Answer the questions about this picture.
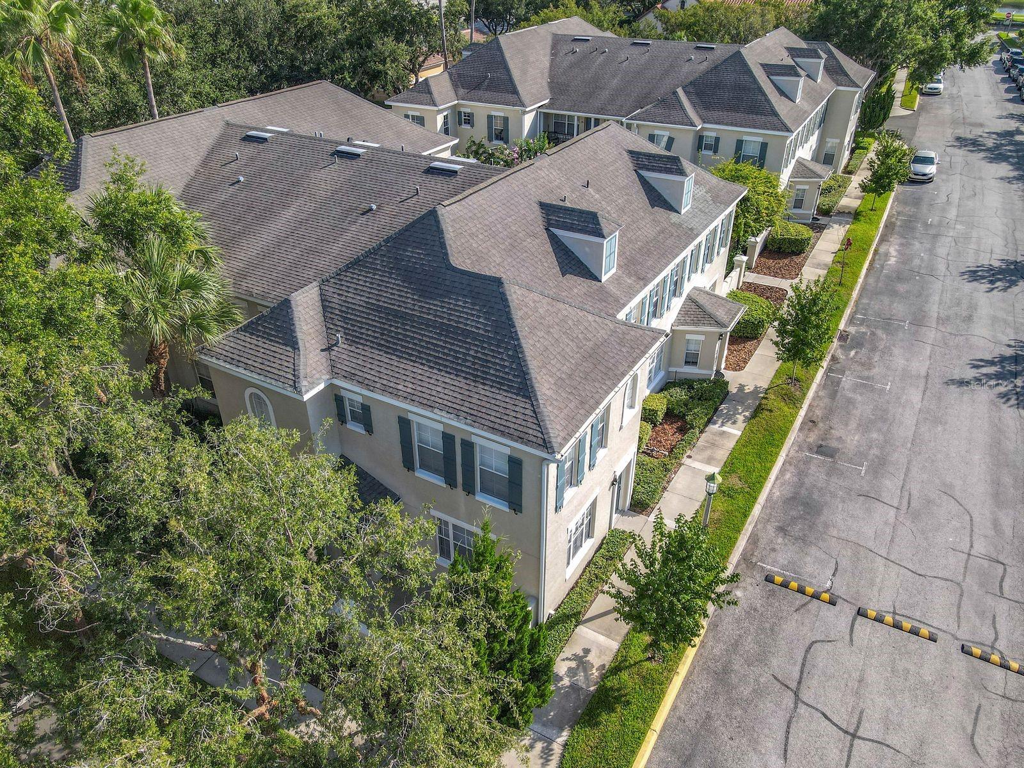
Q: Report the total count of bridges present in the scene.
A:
0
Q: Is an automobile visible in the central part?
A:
No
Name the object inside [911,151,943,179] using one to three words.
car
